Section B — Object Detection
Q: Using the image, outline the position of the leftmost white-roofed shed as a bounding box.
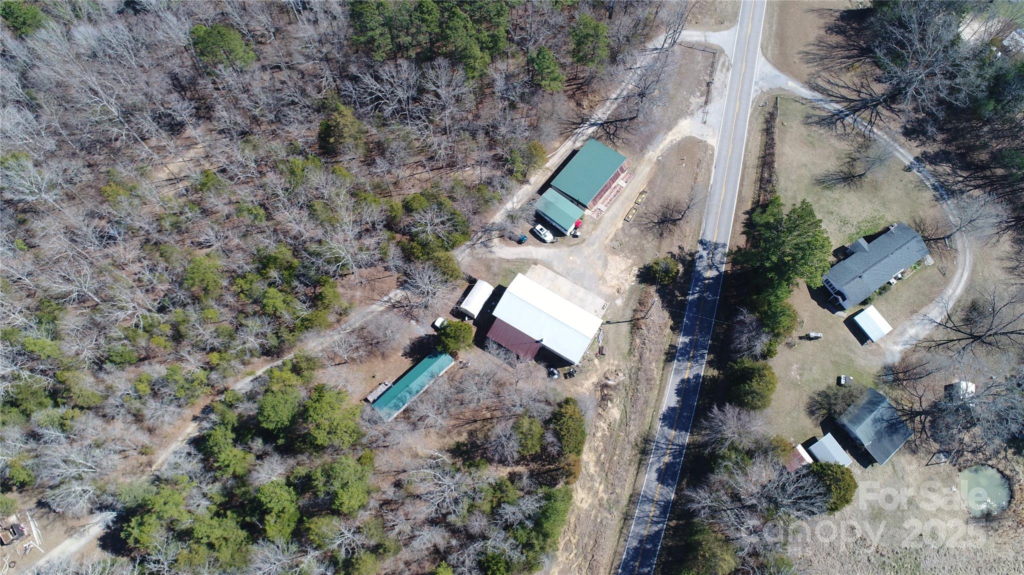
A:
[460,280,494,320]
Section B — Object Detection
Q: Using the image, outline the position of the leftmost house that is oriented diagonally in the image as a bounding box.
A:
[373,348,452,424]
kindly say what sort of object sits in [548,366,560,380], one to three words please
vehicle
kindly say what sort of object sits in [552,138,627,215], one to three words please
barn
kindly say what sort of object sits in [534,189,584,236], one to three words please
building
